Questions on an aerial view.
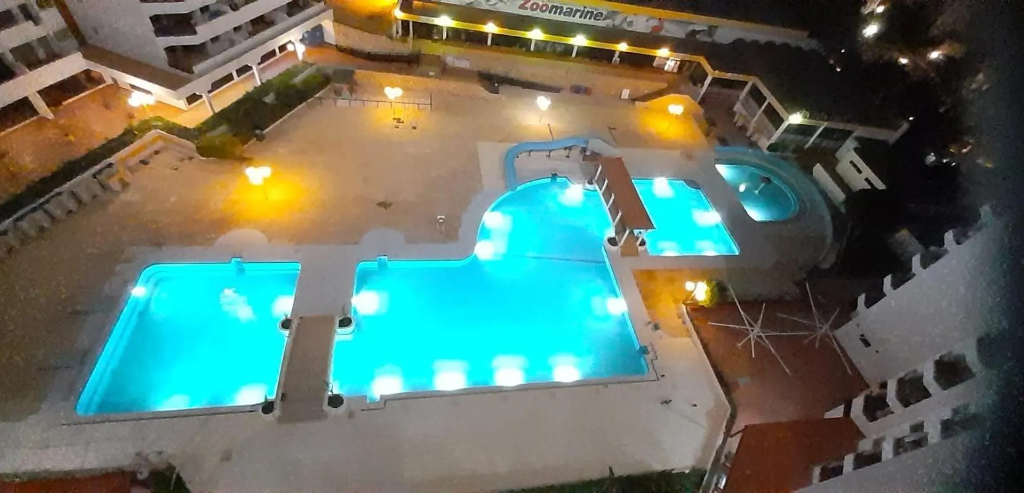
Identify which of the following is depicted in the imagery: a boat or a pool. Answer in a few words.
pool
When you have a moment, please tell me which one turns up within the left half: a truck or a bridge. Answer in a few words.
bridge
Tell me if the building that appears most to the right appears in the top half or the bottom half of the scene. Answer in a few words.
bottom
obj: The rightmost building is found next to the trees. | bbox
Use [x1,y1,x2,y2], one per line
[834,179,1024,493]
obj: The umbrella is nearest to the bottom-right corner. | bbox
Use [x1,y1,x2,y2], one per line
[777,288,872,376]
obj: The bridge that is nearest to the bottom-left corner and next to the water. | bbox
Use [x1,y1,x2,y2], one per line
[273,313,343,425]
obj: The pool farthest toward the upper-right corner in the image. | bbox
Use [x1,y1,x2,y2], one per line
[711,161,802,224]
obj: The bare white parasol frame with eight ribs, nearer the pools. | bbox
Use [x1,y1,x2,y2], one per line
[709,286,803,373]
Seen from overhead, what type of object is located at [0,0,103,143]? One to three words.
building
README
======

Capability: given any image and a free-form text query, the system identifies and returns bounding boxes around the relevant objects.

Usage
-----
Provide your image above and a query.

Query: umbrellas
[709,286,803,373]
[777,288,872,376]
